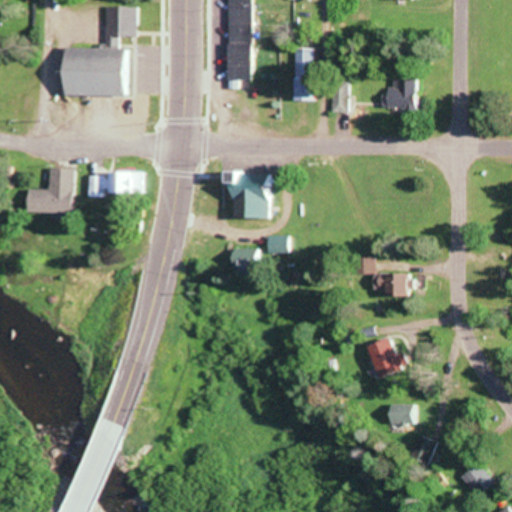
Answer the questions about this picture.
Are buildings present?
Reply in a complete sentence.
Yes, the image includes a building.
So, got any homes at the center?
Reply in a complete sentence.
Yes, there is a home at the center.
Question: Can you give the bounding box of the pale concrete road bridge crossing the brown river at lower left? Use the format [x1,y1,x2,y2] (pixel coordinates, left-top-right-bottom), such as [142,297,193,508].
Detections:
[58,407,128,512]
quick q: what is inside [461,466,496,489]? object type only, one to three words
house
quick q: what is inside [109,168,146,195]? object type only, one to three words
building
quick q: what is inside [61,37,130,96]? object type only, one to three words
building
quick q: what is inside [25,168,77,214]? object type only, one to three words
house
